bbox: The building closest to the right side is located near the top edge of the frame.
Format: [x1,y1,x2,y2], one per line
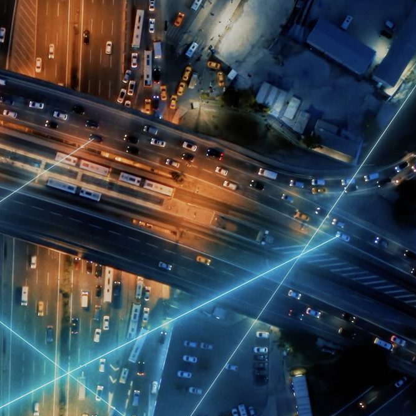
[367,0,416,93]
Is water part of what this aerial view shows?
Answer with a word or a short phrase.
No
